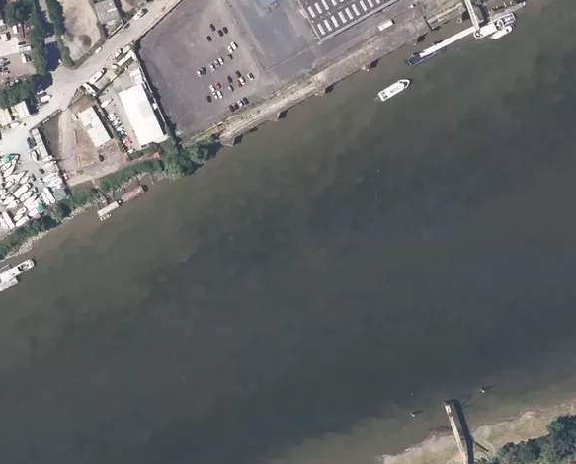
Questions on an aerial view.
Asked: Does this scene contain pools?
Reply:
No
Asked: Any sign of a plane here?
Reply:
No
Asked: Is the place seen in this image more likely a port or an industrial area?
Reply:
port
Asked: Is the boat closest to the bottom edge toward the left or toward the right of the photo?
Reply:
left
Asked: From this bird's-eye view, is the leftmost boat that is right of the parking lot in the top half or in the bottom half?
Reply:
top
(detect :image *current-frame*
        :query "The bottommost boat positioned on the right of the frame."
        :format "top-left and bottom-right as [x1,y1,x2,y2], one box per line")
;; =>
[378,80,409,102]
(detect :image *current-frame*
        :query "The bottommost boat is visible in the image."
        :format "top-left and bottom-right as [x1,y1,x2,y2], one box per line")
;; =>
[0,260,34,282]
